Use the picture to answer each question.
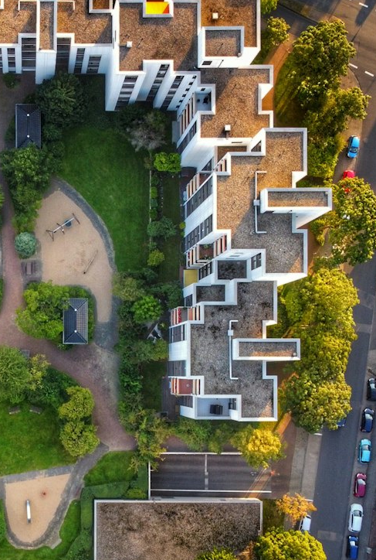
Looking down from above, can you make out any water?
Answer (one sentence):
No, the picture contains no water.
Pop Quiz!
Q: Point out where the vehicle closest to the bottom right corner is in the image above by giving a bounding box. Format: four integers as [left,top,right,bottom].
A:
[344,535,359,559]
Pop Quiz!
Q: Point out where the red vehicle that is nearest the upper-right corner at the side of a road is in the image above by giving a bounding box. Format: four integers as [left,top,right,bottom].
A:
[341,164,356,189]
